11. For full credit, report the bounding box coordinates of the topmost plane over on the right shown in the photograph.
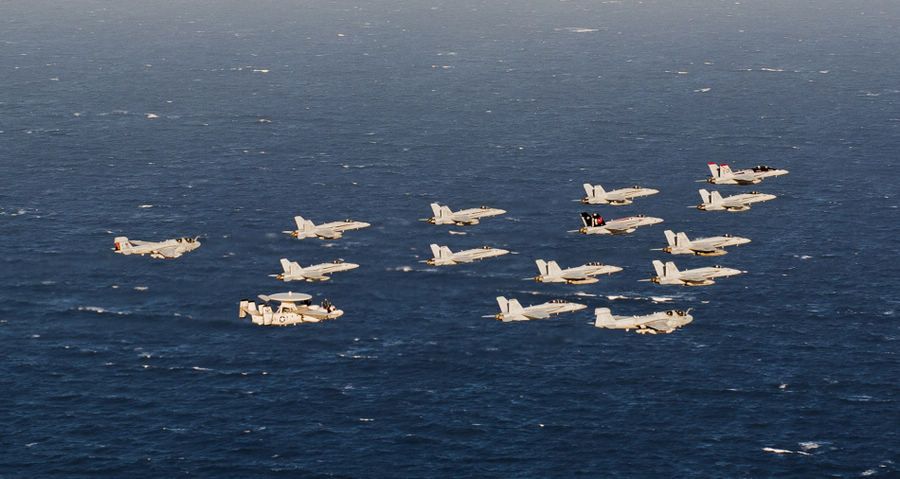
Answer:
[696,162,789,185]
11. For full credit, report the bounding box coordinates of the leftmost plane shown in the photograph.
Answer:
[110,234,200,258]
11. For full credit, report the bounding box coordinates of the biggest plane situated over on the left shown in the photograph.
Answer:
[241,291,344,326]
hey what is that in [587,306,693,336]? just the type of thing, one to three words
airplane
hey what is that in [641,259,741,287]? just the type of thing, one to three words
airplane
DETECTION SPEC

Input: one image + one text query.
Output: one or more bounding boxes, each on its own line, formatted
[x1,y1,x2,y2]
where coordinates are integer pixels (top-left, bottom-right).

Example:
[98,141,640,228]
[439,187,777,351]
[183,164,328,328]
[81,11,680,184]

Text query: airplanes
[269,259,359,281]
[655,229,751,255]
[569,211,664,235]
[526,258,623,285]
[283,216,370,238]
[418,204,506,226]
[573,183,659,206]
[418,243,509,265]
[689,188,775,212]
[587,306,693,336]
[641,259,741,287]
[110,234,200,258]
[241,291,344,326]
[487,296,587,320]
[696,162,789,185]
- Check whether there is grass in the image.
No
